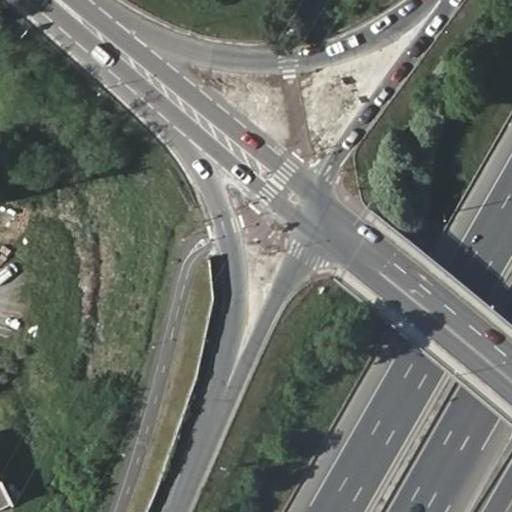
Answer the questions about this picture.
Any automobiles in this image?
Yes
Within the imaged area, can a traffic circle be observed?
No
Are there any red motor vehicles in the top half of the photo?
Yes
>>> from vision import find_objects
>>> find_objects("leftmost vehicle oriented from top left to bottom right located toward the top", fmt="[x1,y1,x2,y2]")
[92,44,115,66]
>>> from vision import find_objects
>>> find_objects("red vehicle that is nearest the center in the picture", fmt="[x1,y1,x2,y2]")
[240,132,260,150]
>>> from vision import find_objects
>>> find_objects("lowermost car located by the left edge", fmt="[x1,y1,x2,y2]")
[2,314,24,332]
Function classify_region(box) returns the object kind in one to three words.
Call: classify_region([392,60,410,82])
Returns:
car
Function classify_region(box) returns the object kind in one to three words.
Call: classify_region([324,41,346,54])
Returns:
vehicle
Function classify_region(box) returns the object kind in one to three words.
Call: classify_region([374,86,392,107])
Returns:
car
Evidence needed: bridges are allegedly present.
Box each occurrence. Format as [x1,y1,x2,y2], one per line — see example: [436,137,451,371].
[334,214,512,427]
